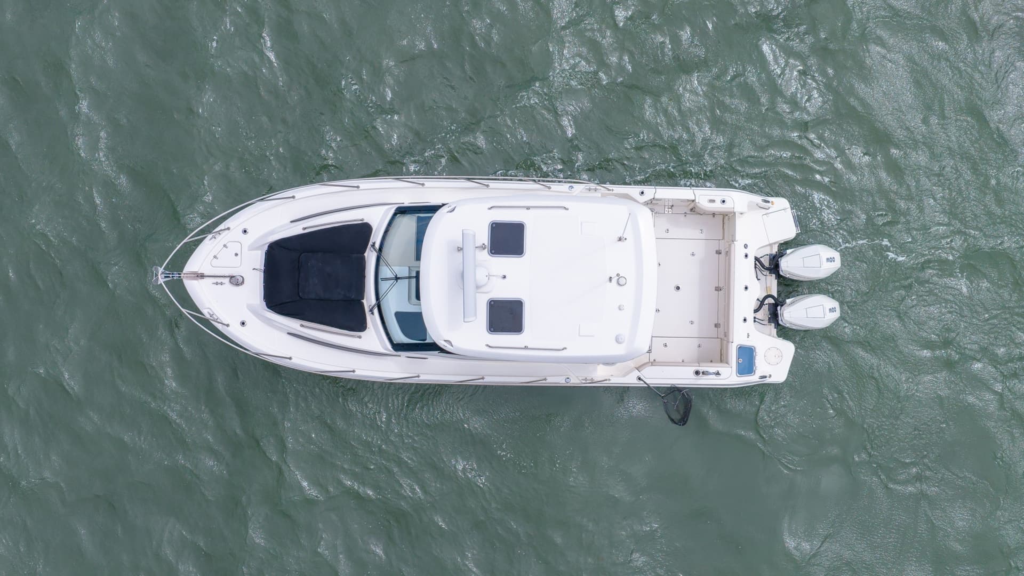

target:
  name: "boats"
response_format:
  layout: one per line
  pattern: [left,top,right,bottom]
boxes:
[158,176,841,387]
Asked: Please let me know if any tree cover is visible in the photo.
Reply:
No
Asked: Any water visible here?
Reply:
Yes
